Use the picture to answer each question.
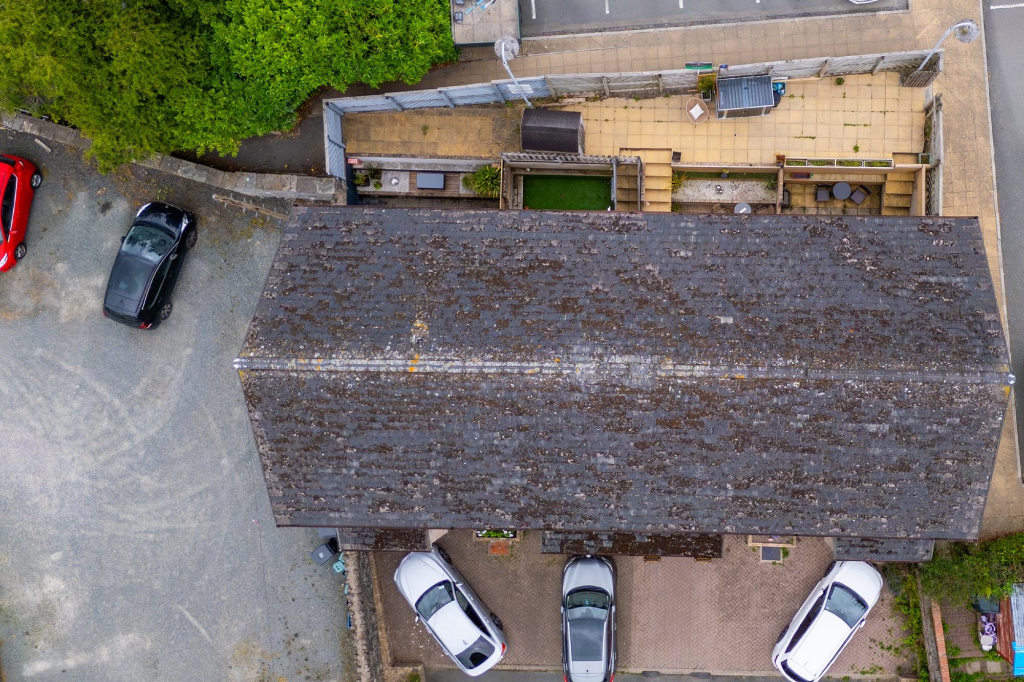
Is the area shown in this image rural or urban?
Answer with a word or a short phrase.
urban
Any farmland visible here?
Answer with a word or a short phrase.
No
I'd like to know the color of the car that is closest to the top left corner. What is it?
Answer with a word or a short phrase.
red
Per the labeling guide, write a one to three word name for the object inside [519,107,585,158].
shed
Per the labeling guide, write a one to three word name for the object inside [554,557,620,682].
car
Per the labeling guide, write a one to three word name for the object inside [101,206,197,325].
car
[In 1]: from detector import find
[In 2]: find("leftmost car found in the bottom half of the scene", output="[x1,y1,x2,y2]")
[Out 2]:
[402,550,506,679]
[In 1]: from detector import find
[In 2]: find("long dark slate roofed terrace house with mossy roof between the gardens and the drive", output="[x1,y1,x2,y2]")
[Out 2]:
[232,202,1019,564]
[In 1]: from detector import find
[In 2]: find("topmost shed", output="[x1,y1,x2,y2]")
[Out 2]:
[717,74,774,117]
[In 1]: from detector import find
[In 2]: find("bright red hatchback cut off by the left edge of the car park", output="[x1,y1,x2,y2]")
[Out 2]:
[0,153,49,269]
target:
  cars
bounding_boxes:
[773,562,877,682]
[0,153,49,269]
[554,557,620,682]
[402,550,506,679]
[101,206,197,325]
